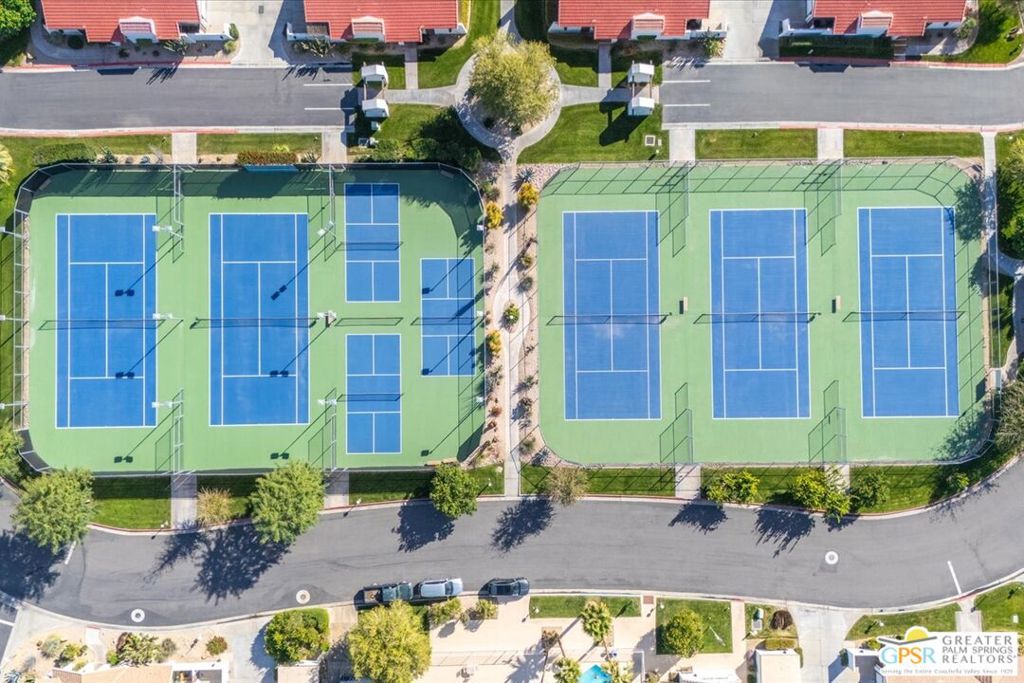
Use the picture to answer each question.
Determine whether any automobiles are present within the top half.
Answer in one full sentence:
No, the scene shows no automobile within the top half.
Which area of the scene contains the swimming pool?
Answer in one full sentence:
The swimming pool is in the bottom part of the image.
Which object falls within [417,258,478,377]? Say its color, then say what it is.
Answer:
blue sports court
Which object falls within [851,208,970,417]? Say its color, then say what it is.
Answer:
blue tennis court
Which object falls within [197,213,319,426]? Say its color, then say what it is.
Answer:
blue tennis court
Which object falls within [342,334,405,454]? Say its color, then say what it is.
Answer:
blue sports court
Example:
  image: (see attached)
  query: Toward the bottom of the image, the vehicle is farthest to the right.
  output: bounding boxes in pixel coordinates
[486,576,529,598]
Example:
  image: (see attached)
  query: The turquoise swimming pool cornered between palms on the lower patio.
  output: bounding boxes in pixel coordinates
[577,663,607,683]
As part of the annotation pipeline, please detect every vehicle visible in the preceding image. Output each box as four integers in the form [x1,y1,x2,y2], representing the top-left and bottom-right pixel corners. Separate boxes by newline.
[362,581,415,604]
[419,577,464,599]
[486,576,529,598]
